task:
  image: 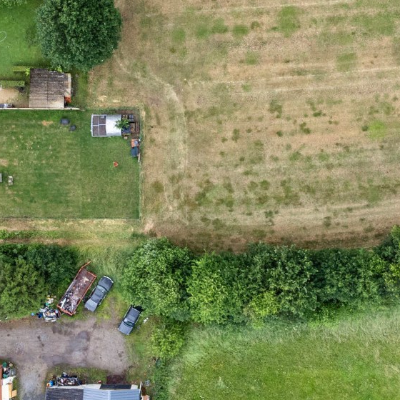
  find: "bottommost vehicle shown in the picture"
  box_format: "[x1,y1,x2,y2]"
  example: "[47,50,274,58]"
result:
[119,303,141,334]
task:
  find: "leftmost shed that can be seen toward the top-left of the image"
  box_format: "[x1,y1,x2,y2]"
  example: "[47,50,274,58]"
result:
[29,68,71,107]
